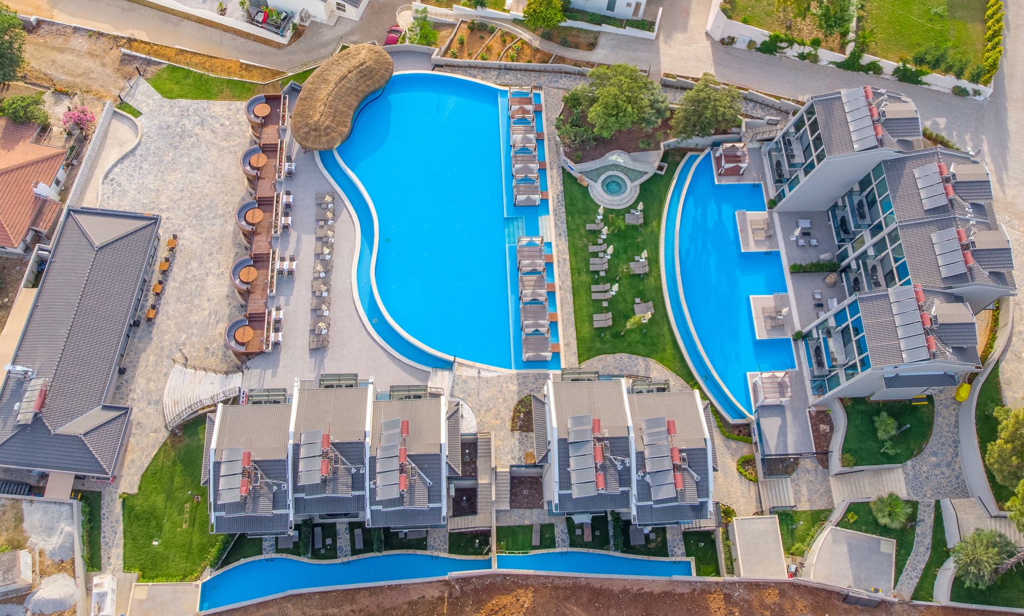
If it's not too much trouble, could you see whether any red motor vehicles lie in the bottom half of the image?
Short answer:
No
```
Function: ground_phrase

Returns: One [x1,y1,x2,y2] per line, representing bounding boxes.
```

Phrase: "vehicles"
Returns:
[379,20,406,49]
[91,574,119,616]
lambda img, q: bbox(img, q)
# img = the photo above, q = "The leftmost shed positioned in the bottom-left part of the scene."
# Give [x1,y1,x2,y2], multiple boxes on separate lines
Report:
[0,550,35,596]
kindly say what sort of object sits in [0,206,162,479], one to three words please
building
